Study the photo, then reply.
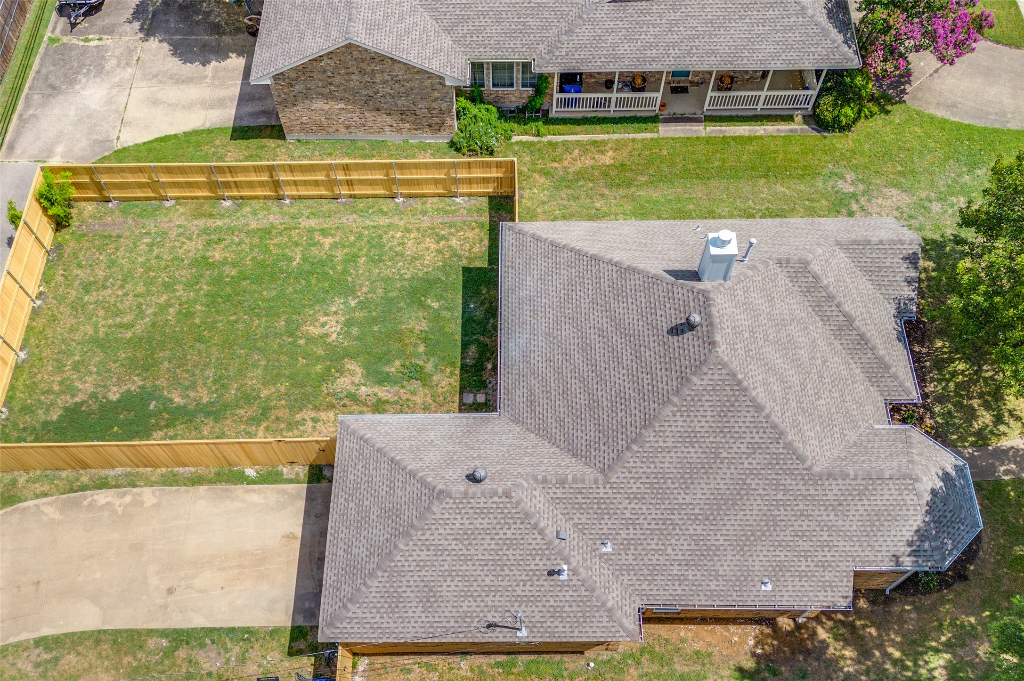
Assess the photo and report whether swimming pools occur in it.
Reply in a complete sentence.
No, there isn't any swimming pool down there.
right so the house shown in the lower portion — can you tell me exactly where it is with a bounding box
[316,217,983,654]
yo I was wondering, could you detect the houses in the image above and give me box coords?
[250,0,863,140]
[316,217,983,654]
